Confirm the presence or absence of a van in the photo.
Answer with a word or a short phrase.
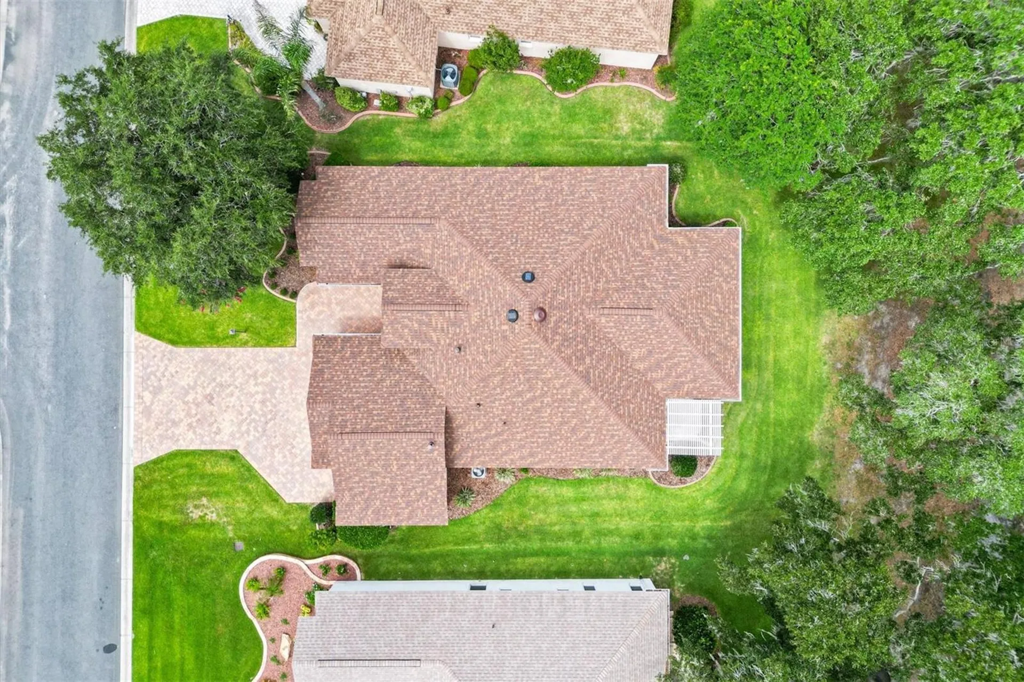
No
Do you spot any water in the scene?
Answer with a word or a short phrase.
No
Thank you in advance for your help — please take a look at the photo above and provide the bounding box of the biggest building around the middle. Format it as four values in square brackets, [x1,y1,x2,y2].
[292,164,744,525]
